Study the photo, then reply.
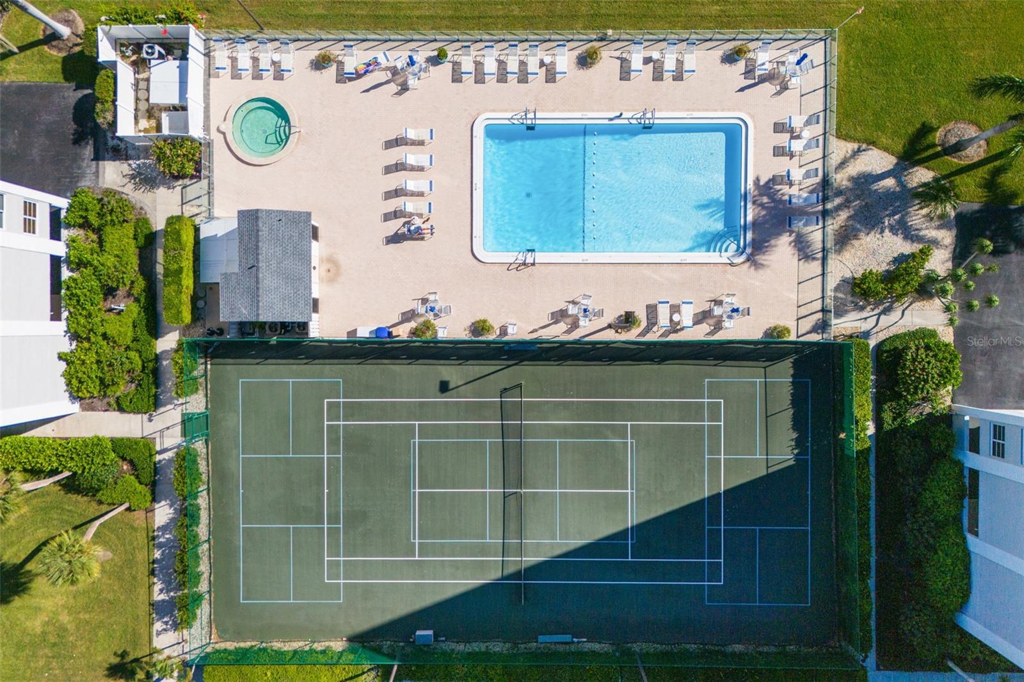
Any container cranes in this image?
No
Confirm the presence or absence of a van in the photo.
No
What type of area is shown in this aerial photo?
sports ground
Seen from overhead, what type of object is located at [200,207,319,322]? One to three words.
building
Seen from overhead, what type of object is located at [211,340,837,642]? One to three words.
tennis court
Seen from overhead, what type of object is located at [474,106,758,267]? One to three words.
swimming pool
